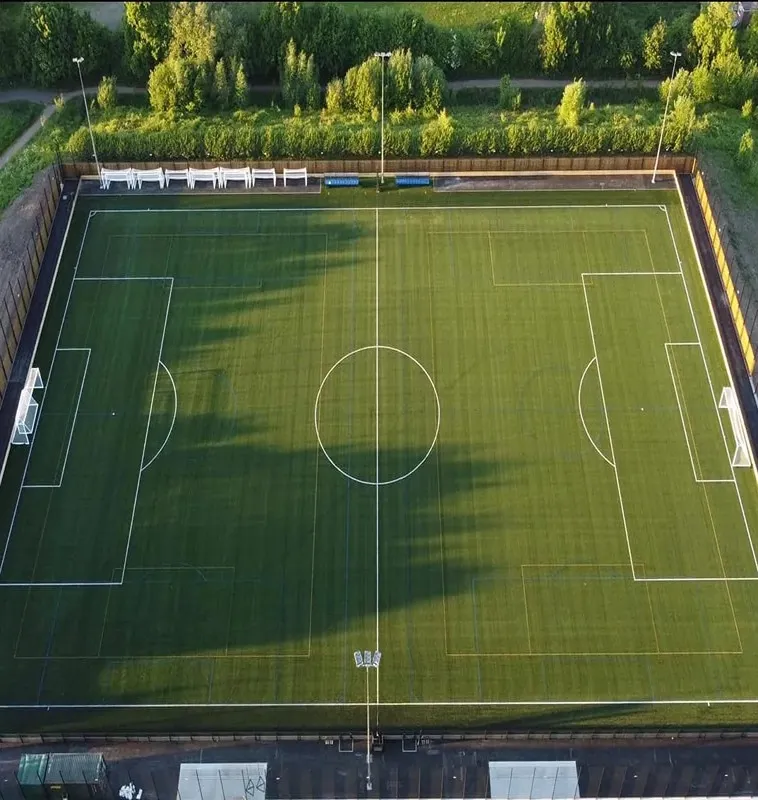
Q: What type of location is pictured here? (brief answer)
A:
sports ground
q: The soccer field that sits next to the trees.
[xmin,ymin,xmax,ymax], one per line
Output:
[0,176,758,729]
